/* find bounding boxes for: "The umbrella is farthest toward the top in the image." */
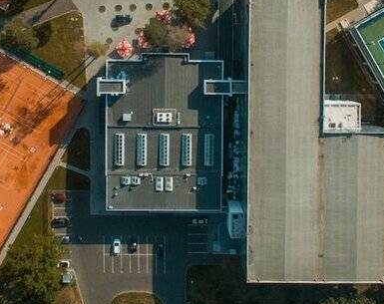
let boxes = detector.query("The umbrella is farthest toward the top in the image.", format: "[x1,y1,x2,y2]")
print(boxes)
[154,7,172,25]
